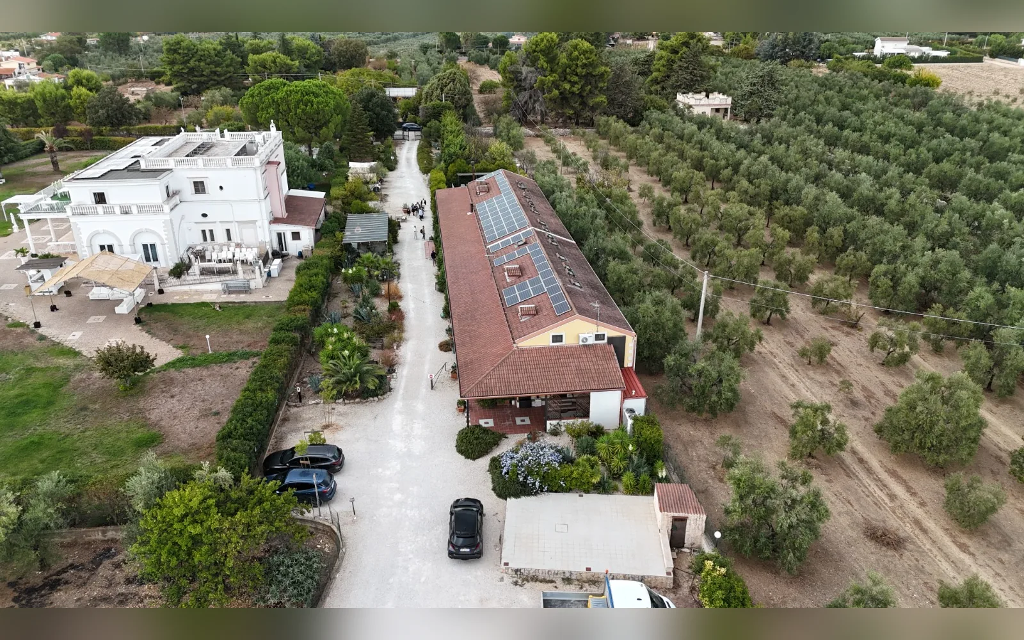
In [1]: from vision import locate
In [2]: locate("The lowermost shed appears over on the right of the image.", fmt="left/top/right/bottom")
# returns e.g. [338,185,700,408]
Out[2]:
[651,478,710,551]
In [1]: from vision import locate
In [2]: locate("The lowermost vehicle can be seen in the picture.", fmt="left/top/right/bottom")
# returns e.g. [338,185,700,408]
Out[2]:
[543,573,684,640]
